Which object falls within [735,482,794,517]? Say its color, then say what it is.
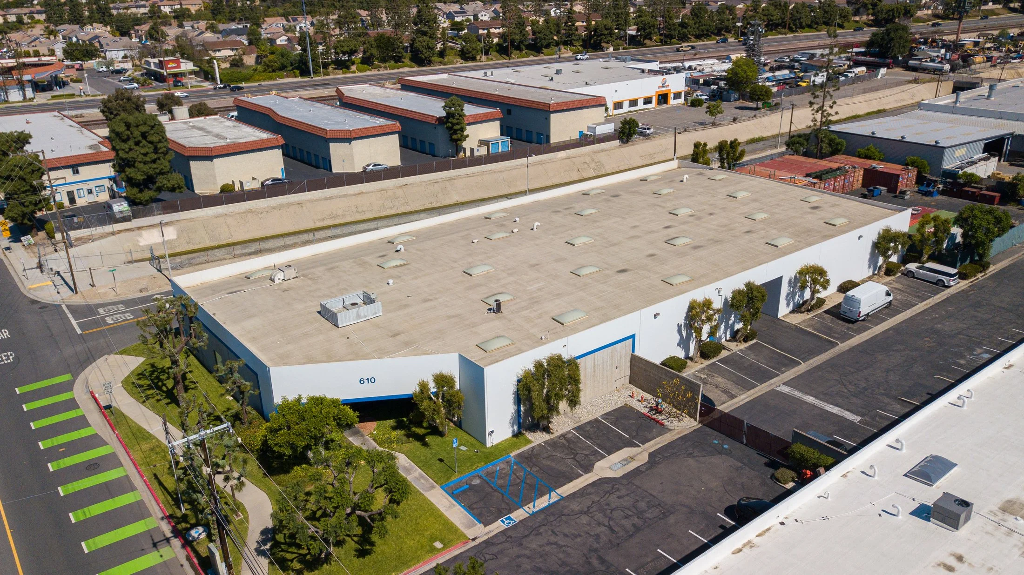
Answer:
black car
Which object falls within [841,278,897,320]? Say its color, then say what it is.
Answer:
white van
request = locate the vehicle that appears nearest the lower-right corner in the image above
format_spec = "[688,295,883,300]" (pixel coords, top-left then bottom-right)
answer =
[807,429,864,453]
